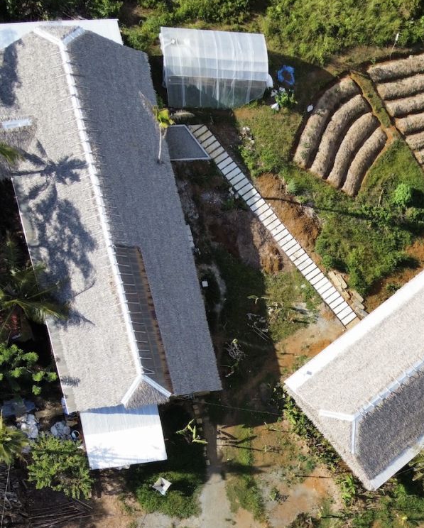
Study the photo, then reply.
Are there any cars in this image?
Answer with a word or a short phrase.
No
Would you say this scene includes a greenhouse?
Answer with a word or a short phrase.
Yes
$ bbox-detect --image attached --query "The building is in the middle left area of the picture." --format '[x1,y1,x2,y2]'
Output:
[0,19,225,470]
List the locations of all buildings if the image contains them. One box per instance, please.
[157,29,271,106]
[0,19,225,470]
[284,273,424,489]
